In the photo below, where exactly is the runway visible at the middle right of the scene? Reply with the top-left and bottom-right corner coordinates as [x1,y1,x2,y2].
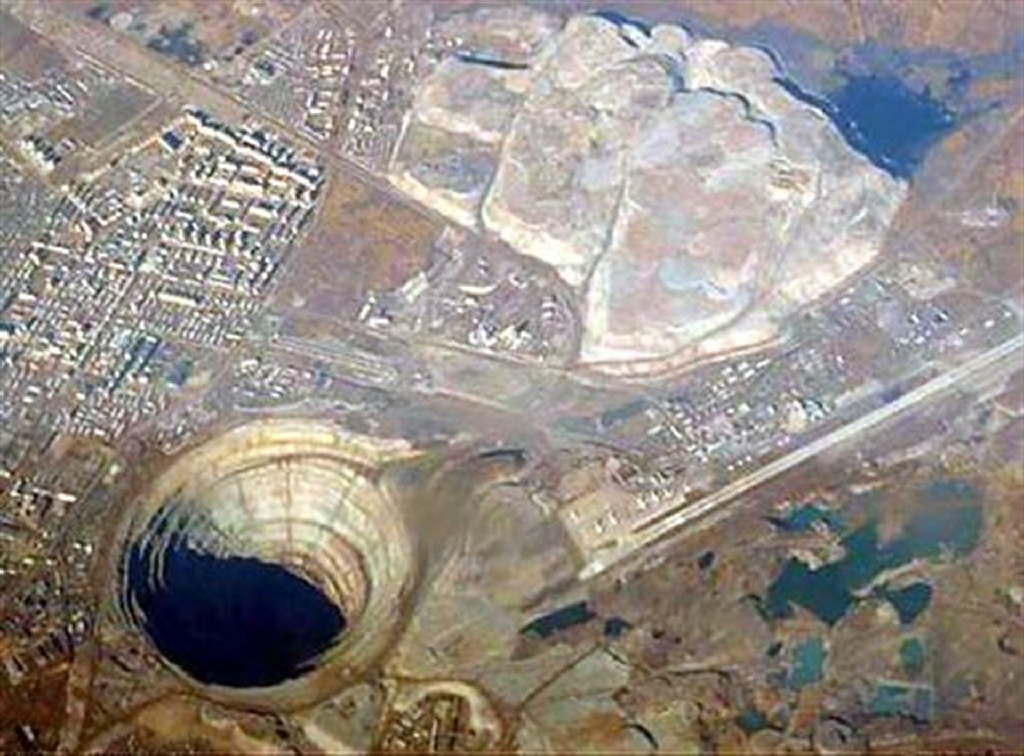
[576,334,1024,583]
